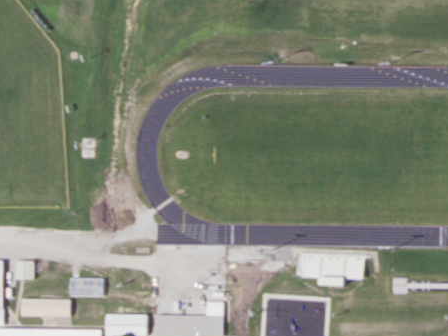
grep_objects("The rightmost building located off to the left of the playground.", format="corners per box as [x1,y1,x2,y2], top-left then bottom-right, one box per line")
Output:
[154,302,224,336]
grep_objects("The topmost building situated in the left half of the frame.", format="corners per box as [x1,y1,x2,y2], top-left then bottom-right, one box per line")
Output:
[15,261,34,281]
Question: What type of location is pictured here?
sports ground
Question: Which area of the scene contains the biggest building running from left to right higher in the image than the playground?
bottom right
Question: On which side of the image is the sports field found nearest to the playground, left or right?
right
